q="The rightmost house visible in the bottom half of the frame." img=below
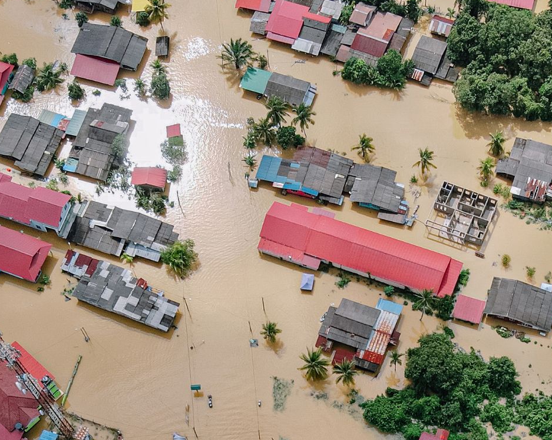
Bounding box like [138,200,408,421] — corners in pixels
[484,277,552,335]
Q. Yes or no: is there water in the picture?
Yes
